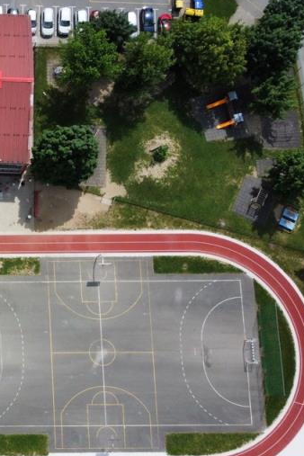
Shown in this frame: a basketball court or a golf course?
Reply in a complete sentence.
The image shows a basketball court.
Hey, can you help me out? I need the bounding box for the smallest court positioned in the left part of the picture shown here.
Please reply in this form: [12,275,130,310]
[39,255,167,453]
